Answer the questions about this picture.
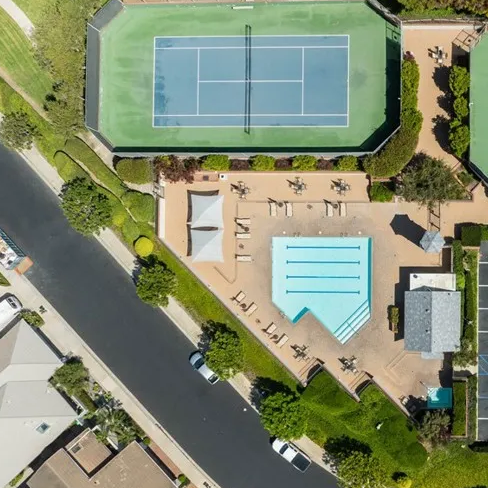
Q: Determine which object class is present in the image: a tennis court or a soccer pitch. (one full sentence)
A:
It is a tennis court that can be seen here.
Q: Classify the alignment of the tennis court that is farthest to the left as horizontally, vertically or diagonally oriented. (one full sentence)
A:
The tennis court that is farthest to the left is laid out horizontally.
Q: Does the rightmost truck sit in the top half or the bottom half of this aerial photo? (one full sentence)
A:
It is in the bottom half that the rightmost truck appears.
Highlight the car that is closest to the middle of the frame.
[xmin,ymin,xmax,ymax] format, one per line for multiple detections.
[188,351,219,386]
